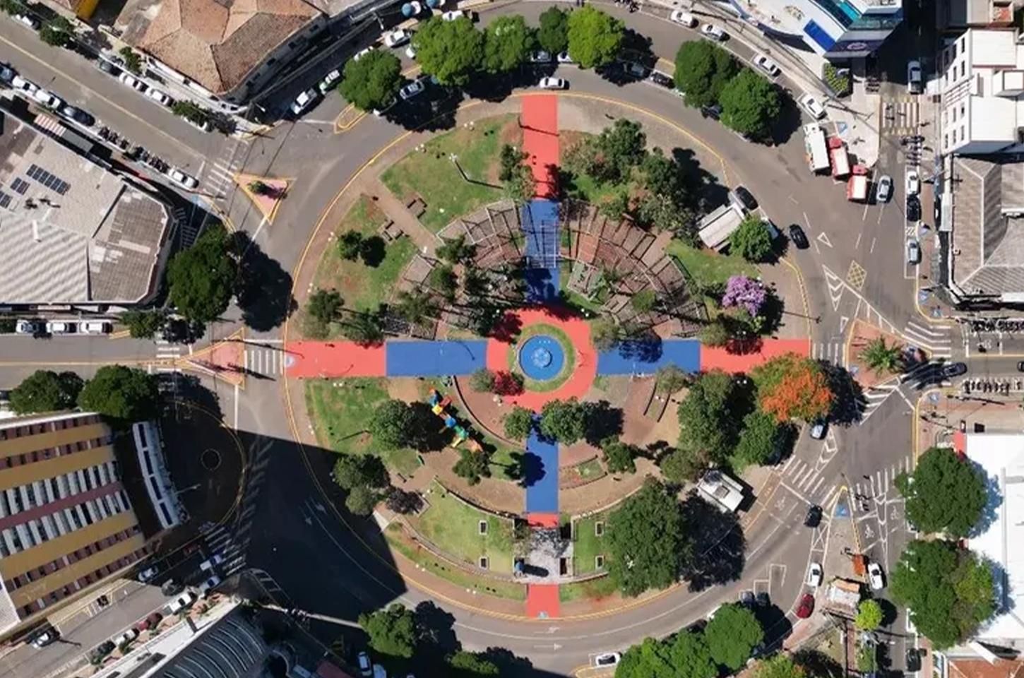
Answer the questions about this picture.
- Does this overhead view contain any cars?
Yes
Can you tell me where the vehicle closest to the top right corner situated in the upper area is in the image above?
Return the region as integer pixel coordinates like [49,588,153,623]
[907,62,922,92]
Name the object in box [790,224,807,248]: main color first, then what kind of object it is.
black car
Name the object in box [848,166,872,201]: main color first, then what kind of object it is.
white truck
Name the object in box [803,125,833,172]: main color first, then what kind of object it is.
white truck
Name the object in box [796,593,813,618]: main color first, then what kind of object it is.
red car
